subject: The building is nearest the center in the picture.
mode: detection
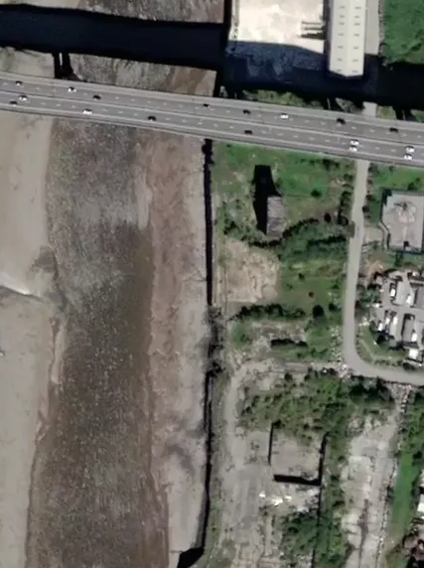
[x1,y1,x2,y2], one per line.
[261,193,283,236]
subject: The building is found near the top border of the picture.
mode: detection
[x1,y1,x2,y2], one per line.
[325,0,367,77]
